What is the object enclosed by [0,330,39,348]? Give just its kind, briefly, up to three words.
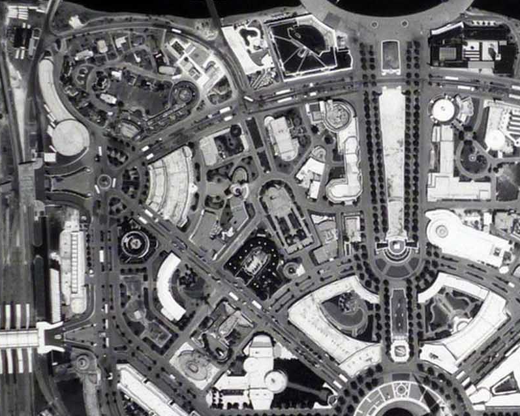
bridge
